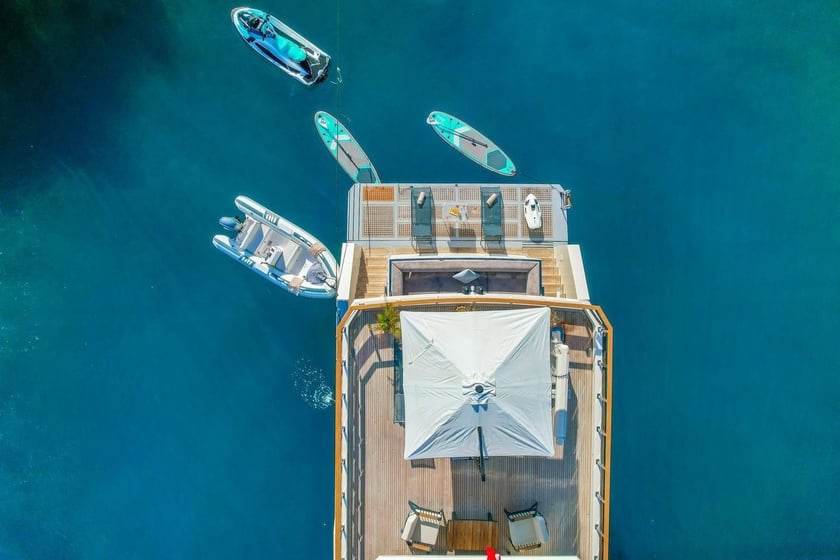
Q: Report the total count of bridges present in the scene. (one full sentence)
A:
There are no bridges in the image.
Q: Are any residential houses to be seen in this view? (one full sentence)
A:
No, the scene contains no residential house.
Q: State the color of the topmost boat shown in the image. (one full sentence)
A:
In this view, the topmost boat is blue.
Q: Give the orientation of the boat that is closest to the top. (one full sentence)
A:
The boat that is closest to the top is oriented at an angle.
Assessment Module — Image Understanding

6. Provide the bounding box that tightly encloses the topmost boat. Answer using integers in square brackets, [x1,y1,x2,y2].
[229,4,329,85]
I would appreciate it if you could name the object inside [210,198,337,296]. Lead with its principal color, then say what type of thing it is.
white boat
